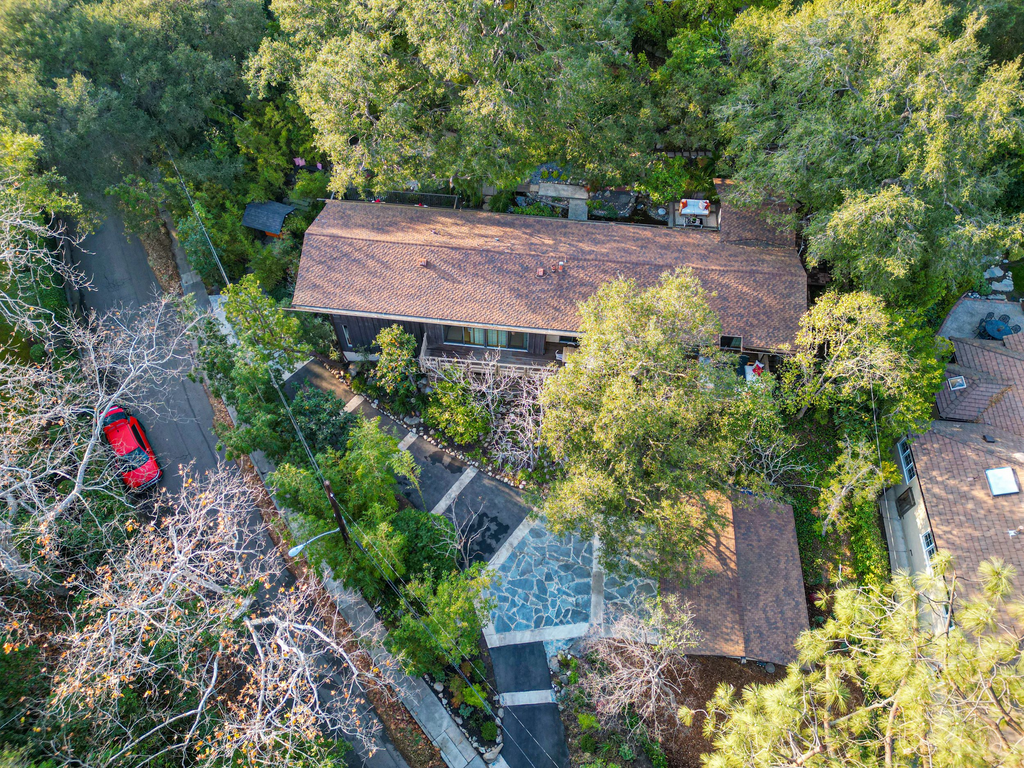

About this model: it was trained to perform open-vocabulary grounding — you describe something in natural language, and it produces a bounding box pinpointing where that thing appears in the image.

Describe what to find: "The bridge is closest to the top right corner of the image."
[538,180,589,220]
